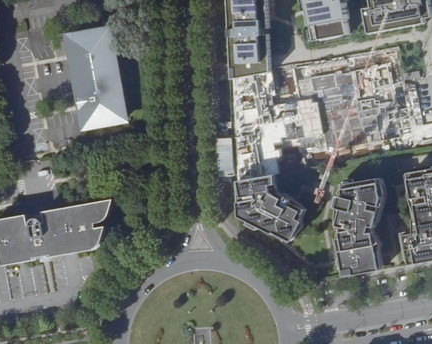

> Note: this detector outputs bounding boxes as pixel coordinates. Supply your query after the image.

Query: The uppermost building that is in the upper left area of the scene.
[62,26,128,130]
